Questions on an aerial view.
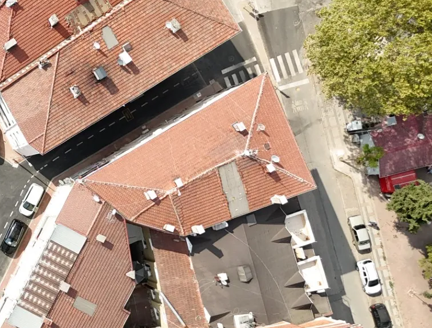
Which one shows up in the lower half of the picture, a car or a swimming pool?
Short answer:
car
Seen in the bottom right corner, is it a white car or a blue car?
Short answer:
white car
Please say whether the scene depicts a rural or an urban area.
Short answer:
urban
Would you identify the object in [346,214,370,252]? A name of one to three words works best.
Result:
car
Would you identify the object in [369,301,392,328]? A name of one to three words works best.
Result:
car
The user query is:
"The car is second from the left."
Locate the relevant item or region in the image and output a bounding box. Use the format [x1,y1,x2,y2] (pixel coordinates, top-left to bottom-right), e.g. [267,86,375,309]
[19,182,44,217]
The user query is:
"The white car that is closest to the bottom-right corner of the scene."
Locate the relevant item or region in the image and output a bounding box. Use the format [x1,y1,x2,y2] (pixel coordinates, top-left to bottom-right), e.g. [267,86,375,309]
[356,259,381,295]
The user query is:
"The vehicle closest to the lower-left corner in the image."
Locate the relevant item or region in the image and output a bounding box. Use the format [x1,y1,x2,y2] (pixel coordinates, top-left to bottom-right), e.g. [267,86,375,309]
[1,218,26,255]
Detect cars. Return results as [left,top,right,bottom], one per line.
[356,259,381,295]
[19,182,44,217]
[369,301,392,328]
[1,218,26,255]
[346,214,370,252]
